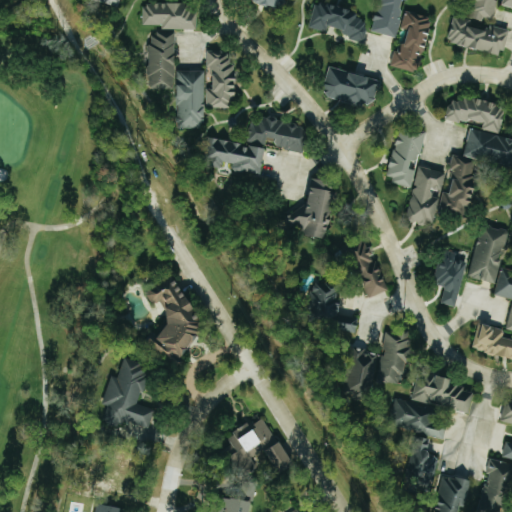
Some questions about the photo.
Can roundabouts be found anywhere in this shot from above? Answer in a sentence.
No, there isn't any roundabout down there.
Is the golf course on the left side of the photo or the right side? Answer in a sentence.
You can find the golf course on the left side of the picture.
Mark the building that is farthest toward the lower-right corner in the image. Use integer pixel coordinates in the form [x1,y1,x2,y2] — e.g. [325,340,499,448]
[484,458,510,509]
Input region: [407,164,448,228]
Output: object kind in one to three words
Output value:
house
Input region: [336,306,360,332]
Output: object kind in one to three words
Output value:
house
